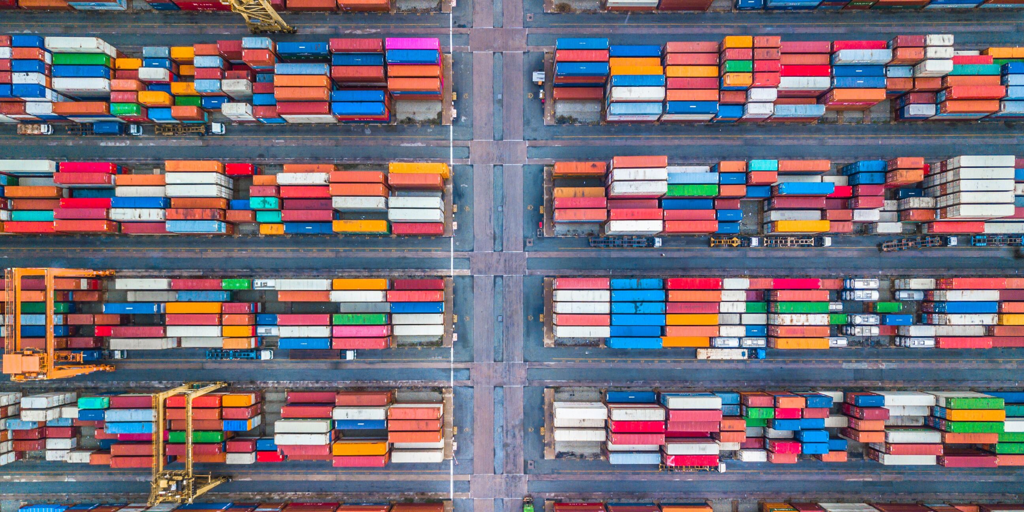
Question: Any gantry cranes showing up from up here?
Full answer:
Yes, there's a gantry crane here.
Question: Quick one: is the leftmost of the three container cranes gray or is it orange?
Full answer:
The color of the leftmost of the three container cranes is orange.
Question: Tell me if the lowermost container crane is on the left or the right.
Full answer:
The lowermost container crane sits on the left side.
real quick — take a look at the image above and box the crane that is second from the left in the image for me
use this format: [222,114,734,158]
[149,379,236,508]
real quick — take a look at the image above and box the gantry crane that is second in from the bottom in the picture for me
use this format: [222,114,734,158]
[1,264,117,379]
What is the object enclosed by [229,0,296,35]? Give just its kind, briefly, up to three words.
container crane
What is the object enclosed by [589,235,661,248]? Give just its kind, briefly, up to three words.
vehicle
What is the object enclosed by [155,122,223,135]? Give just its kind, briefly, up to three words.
vehicle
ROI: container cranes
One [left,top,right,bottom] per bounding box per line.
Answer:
[149,379,236,508]
[229,0,296,35]
[1,264,117,379]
